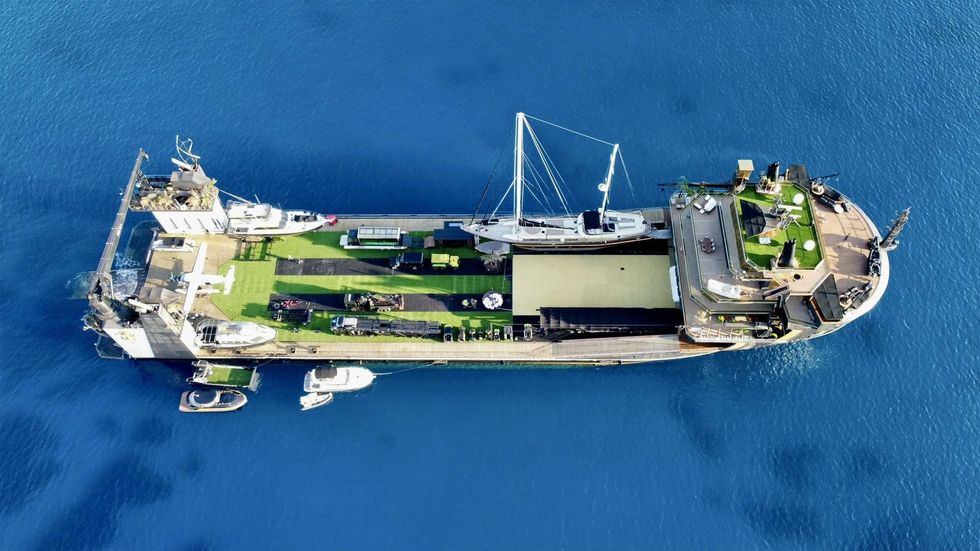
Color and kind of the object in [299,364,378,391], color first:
white boat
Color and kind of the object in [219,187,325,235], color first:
white boat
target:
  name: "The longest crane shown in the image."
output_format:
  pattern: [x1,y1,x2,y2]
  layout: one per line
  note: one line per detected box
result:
[69,146,153,338]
